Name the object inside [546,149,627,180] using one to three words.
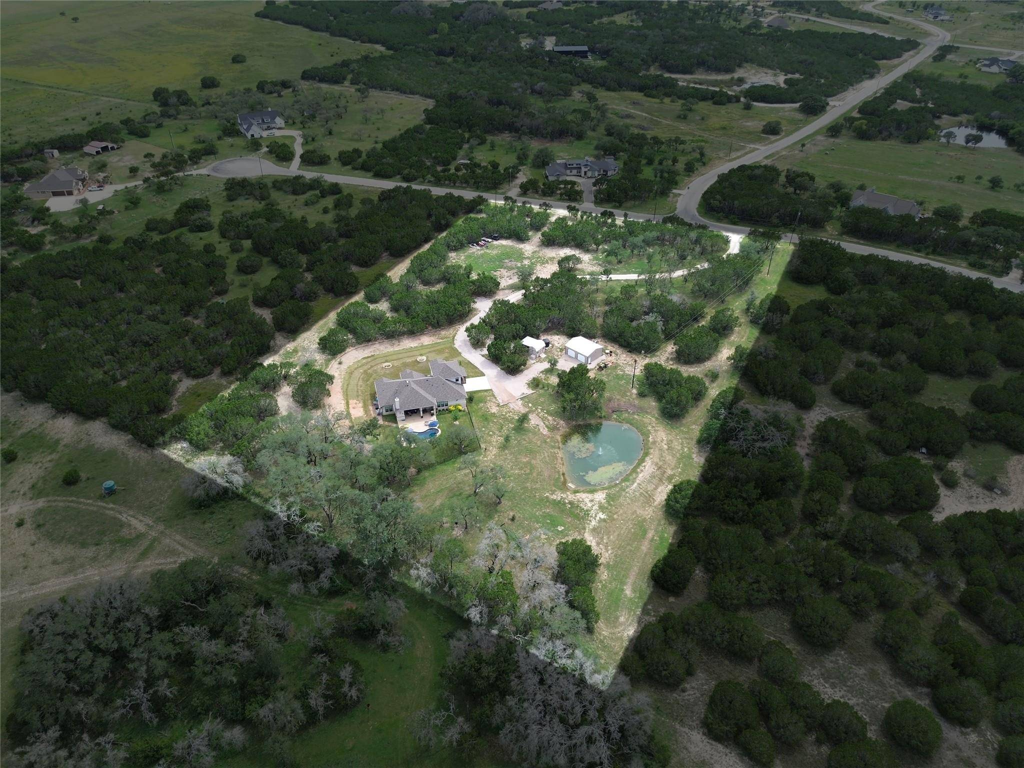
house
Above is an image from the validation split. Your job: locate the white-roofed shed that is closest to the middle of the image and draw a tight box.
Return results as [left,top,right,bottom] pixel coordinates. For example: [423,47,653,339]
[521,339,546,359]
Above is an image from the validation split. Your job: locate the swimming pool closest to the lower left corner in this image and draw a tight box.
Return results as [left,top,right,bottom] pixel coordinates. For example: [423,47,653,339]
[413,427,441,441]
